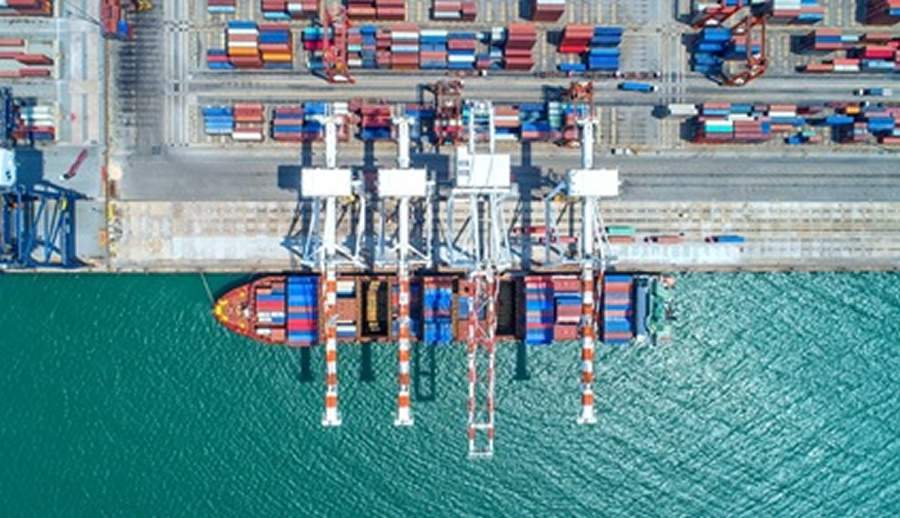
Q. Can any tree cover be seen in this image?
No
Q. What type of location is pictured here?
port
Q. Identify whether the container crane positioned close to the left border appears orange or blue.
blue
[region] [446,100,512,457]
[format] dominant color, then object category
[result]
white container crane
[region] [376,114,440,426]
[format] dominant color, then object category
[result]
white container crane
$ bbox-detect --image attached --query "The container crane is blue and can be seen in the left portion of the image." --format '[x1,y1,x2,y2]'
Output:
[0,85,99,277]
